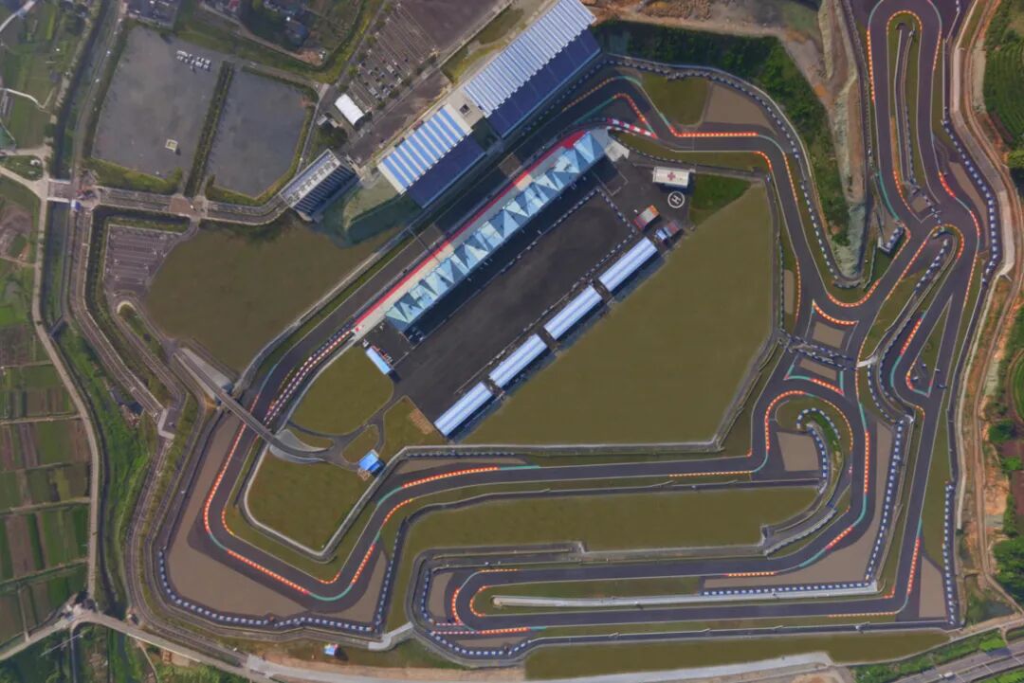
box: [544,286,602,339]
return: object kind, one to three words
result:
shed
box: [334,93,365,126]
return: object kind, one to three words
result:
tent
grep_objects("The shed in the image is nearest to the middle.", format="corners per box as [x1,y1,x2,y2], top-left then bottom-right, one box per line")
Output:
[489,335,546,388]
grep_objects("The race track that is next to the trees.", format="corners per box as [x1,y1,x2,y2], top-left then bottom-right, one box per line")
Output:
[206,0,979,632]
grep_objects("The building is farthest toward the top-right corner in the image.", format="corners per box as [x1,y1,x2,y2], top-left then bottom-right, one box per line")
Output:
[652,166,697,189]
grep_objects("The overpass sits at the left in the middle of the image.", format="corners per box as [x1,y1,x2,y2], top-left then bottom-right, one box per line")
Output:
[174,349,325,464]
